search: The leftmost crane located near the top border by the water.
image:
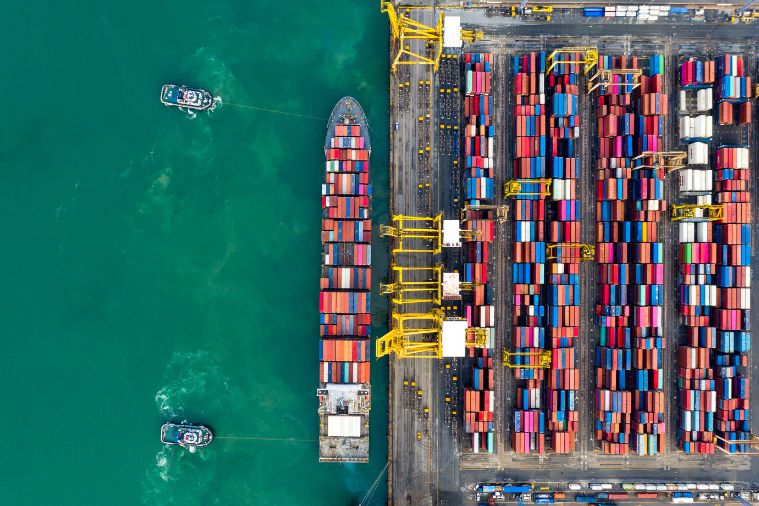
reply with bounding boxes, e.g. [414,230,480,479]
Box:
[380,0,477,74]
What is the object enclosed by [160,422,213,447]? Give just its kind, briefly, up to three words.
boat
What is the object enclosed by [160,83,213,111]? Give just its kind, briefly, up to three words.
boat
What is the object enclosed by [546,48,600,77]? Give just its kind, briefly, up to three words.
container crane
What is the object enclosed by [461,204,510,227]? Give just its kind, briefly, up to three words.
container crane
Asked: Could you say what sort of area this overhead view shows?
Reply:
port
